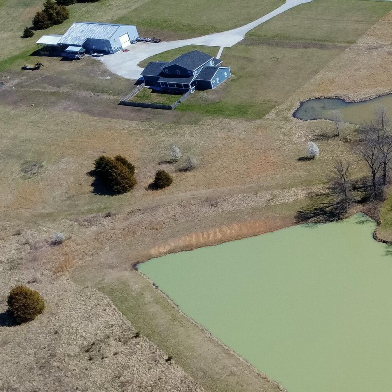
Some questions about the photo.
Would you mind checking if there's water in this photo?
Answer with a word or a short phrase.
Yes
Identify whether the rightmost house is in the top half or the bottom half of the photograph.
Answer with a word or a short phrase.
top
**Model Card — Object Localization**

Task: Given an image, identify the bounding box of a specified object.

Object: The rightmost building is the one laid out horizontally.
[139,50,229,92]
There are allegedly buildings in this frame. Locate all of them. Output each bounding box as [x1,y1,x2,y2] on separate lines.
[54,21,140,55]
[139,50,229,92]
